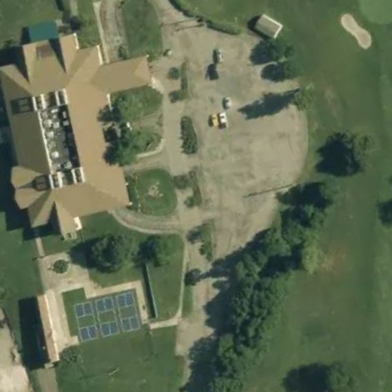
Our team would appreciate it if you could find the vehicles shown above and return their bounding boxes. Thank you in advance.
[211,113,218,127]
[216,48,223,62]
[225,96,230,110]
[210,66,216,80]
[220,113,226,128]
